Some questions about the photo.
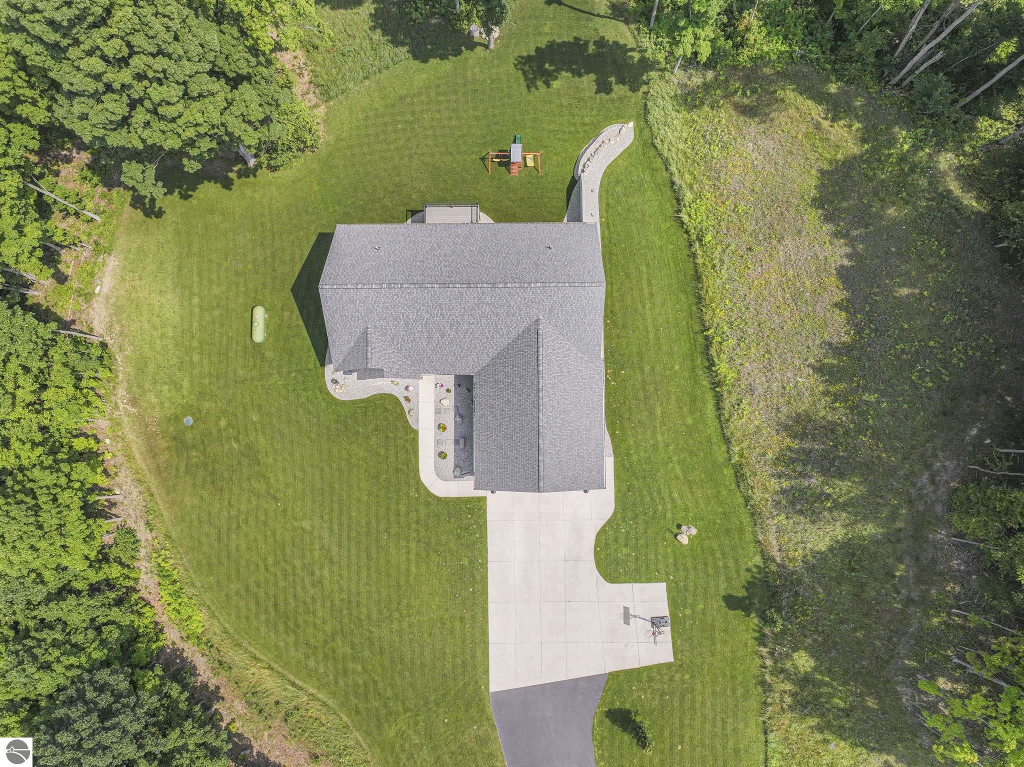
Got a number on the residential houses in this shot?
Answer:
1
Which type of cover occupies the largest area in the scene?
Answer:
grass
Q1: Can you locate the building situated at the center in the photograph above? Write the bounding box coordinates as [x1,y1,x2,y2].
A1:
[319,221,609,494]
